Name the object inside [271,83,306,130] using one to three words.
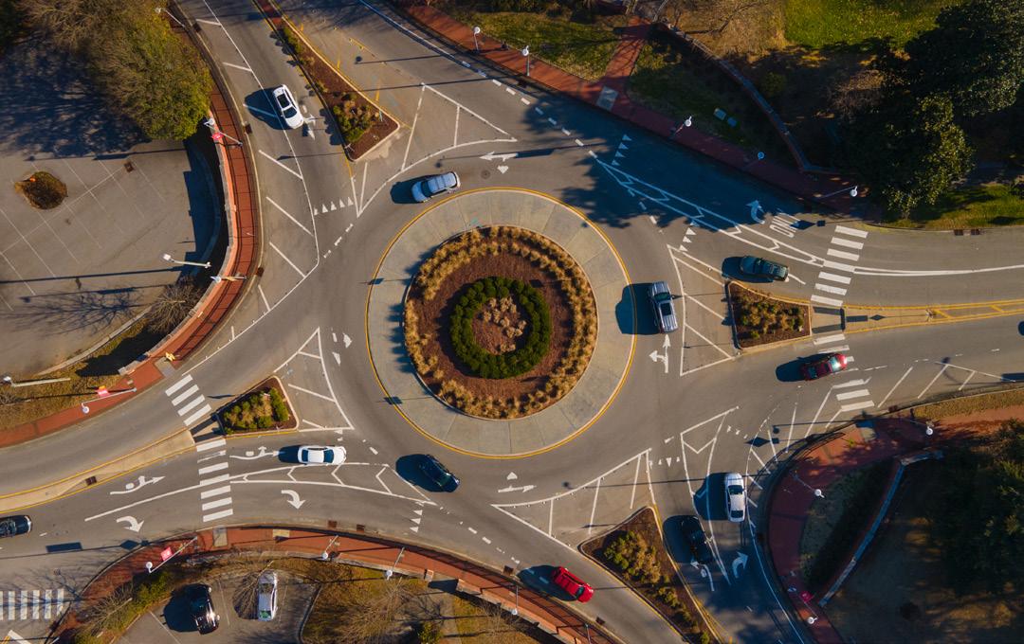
car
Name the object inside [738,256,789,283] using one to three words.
car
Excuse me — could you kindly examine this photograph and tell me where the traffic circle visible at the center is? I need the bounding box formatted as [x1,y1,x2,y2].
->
[307,126,697,516]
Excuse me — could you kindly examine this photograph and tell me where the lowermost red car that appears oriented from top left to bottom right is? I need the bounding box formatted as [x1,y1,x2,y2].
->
[551,565,595,602]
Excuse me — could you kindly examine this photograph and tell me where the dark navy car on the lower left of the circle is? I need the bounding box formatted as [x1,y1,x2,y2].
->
[419,454,462,491]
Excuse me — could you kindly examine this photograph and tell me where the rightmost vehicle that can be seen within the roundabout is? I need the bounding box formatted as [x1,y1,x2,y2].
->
[651,281,679,333]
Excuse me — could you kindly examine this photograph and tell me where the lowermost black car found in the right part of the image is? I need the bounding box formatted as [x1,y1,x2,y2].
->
[682,515,713,566]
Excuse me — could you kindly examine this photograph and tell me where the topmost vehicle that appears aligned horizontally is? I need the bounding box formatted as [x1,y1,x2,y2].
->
[412,172,462,200]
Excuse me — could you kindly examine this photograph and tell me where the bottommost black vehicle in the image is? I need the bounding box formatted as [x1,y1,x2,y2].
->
[189,584,217,634]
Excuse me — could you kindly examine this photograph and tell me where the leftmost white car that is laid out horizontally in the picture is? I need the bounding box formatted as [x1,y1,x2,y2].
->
[298,445,348,468]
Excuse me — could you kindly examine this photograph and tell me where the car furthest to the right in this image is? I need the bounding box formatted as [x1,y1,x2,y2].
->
[799,354,847,381]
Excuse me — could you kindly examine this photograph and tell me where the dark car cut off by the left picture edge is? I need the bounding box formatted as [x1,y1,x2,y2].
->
[0,516,34,540]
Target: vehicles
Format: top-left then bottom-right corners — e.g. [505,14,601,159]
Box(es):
[419,454,462,491]
[738,256,789,283]
[551,565,595,602]
[724,472,748,522]
[0,516,34,540]
[682,515,713,566]
[271,83,306,130]
[256,572,279,619]
[412,172,462,200]
[799,354,847,381]
[651,281,679,333]
[298,445,348,468]
[189,584,217,634]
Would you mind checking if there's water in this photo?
No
